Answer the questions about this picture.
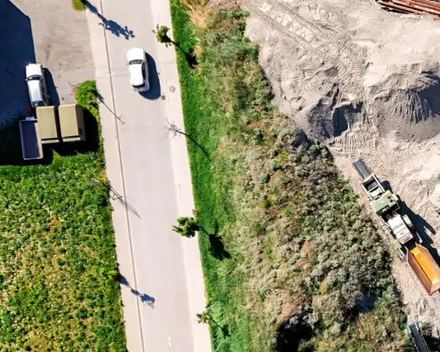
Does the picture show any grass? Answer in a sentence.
Yes, there's grass in this view.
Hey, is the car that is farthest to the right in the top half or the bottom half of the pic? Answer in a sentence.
The car that is farthest to the right is in the top half of the image.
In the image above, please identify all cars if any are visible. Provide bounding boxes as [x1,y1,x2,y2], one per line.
[21,61,49,108]
[122,45,151,91]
